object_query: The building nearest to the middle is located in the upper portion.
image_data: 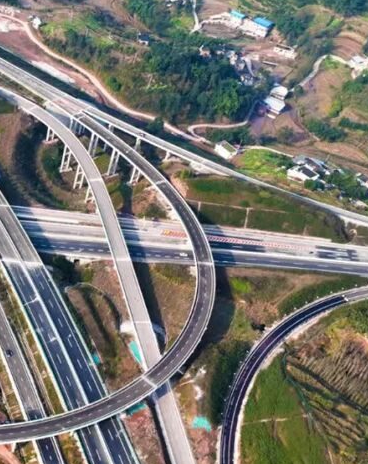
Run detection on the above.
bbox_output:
[211,141,240,161]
